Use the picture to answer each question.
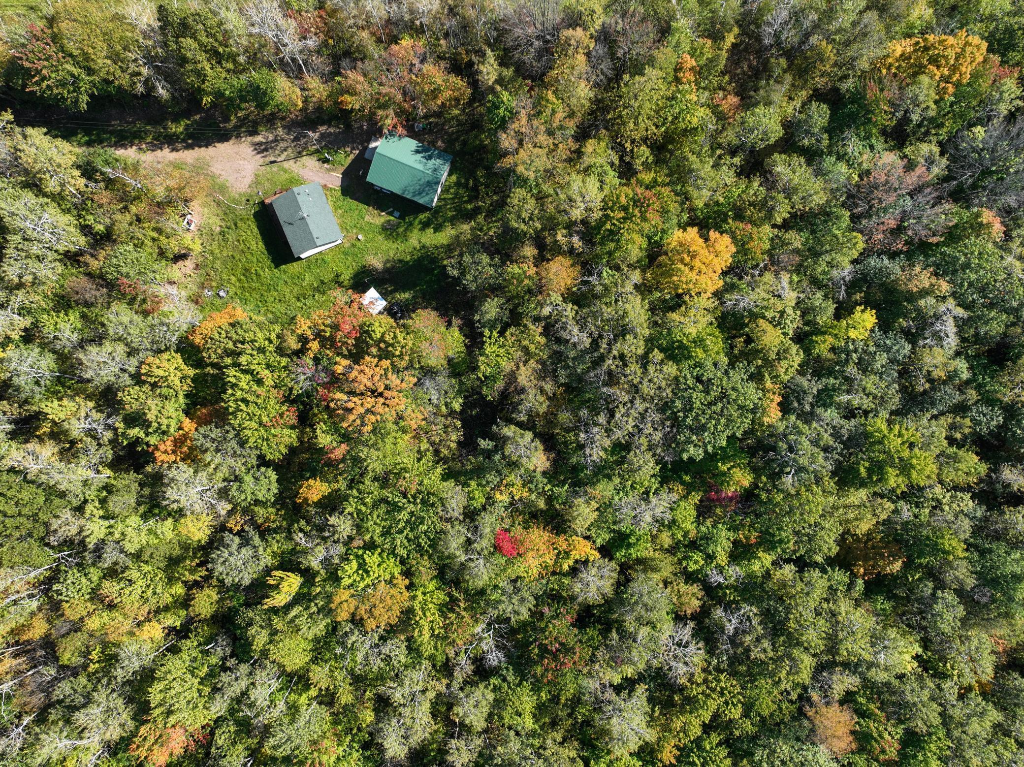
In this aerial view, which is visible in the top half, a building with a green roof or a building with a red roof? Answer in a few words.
building with a green roof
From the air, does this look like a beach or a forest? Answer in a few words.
forest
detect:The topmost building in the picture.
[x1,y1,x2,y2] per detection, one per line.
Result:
[366,131,452,210]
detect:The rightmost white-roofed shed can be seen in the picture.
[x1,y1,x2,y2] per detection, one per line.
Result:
[361,287,388,315]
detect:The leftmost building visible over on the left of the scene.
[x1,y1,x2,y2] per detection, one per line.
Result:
[262,181,345,260]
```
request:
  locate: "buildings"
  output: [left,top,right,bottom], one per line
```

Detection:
[262,181,345,260]
[361,287,388,315]
[366,131,452,210]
